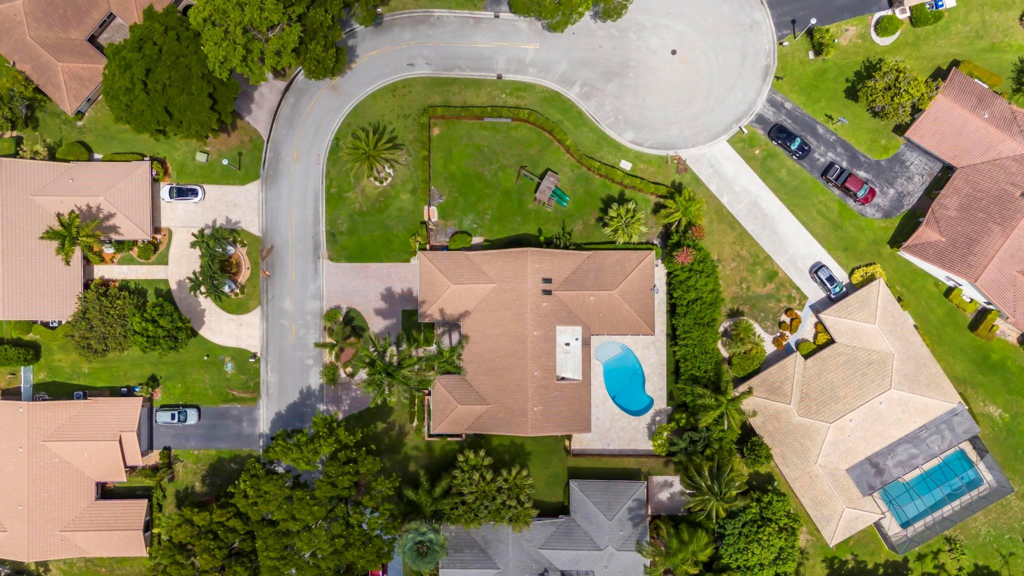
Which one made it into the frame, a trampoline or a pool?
pool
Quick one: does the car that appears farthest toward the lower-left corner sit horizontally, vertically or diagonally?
horizontally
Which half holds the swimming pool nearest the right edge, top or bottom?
bottom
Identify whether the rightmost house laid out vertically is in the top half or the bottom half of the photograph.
top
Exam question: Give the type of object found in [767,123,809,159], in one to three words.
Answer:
car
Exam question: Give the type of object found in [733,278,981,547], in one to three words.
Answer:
house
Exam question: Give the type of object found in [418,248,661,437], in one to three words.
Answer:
house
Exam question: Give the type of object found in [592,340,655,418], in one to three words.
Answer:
swimming pool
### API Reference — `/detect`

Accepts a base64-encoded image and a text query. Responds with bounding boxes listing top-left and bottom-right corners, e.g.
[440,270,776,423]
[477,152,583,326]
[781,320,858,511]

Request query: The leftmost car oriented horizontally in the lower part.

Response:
[153,405,200,427]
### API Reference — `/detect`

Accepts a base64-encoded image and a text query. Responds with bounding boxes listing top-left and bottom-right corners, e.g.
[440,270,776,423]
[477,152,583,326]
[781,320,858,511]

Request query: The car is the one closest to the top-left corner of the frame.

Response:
[162,182,203,204]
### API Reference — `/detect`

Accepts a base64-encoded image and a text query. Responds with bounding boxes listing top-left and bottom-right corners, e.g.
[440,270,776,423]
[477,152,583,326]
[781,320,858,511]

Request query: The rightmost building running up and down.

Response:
[896,66,1024,336]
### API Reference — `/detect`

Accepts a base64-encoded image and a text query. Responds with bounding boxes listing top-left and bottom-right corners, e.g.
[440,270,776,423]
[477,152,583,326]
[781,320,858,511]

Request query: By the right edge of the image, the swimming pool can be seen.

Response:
[879,447,986,530]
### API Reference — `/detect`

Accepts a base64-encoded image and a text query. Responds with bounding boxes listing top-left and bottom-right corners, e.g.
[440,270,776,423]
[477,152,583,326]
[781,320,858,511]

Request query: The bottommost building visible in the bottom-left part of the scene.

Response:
[0,396,154,562]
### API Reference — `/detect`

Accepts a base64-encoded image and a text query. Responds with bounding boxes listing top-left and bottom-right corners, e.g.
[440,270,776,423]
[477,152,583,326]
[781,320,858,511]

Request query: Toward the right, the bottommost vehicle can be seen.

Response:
[810,261,844,302]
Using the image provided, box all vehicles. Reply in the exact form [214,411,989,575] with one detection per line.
[153,405,200,427]
[767,123,809,159]
[822,163,873,203]
[370,563,389,576]
[162,182,203,204]
[810,261,844,302]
